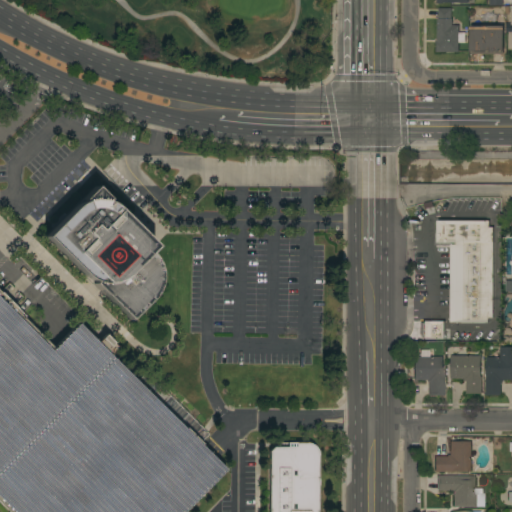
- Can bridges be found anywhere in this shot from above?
Yes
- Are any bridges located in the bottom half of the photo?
No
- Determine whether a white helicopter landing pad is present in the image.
No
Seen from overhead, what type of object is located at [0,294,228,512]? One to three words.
warehouse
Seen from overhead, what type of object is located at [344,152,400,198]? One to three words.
bridge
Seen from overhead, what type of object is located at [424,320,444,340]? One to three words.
building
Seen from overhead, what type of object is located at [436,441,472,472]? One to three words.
house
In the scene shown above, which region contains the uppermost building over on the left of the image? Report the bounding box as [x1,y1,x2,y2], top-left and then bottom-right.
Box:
[50,187,163,283]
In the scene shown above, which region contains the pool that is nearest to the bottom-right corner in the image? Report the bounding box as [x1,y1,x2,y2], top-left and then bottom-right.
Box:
[476,444,490,468]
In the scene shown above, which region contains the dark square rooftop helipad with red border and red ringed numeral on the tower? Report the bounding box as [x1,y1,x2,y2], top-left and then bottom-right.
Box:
[98,234,141,277]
